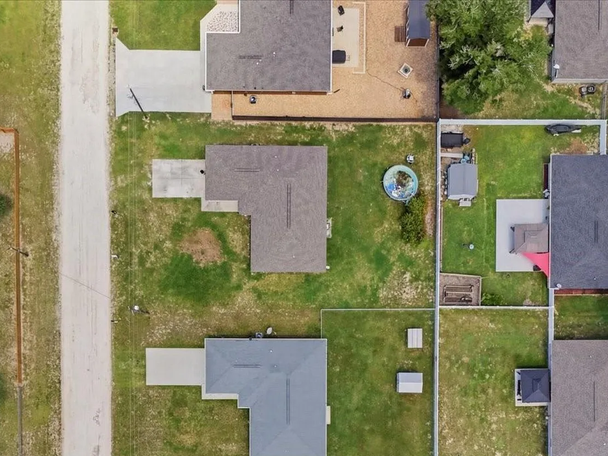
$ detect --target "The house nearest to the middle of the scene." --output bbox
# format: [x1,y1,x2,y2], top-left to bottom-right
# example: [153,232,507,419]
[206,144,327,273]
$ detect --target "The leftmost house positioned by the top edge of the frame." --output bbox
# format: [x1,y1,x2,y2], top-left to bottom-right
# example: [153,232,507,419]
[206,0,331,95]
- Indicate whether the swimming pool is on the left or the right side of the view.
right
